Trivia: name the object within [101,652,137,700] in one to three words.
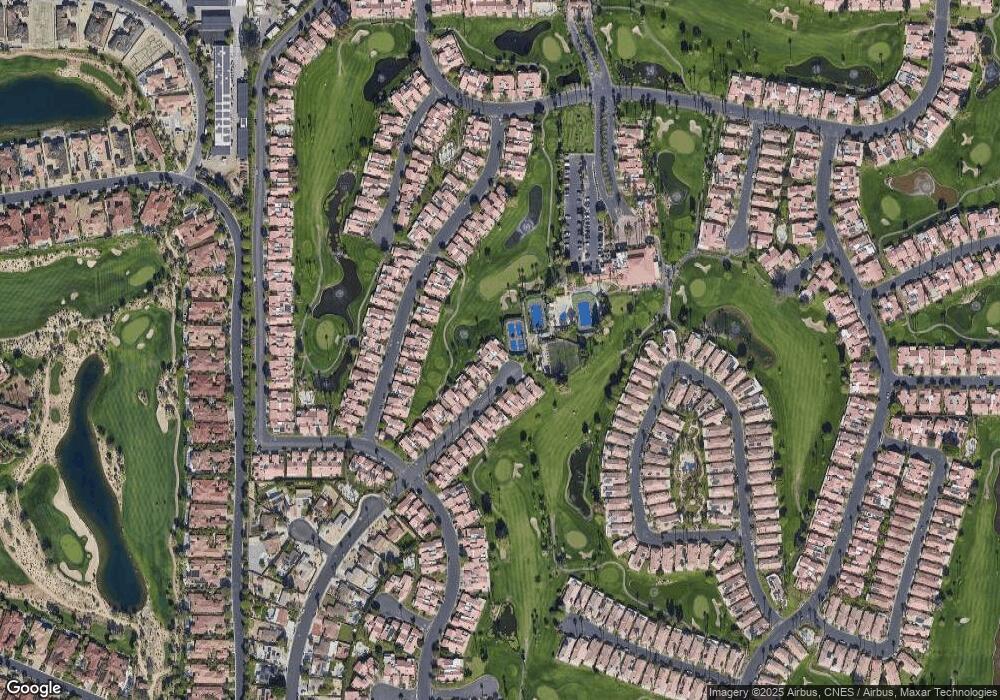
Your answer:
house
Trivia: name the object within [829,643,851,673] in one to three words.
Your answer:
house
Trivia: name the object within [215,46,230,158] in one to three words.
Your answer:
building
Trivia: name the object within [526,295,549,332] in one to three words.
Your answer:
tennis court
